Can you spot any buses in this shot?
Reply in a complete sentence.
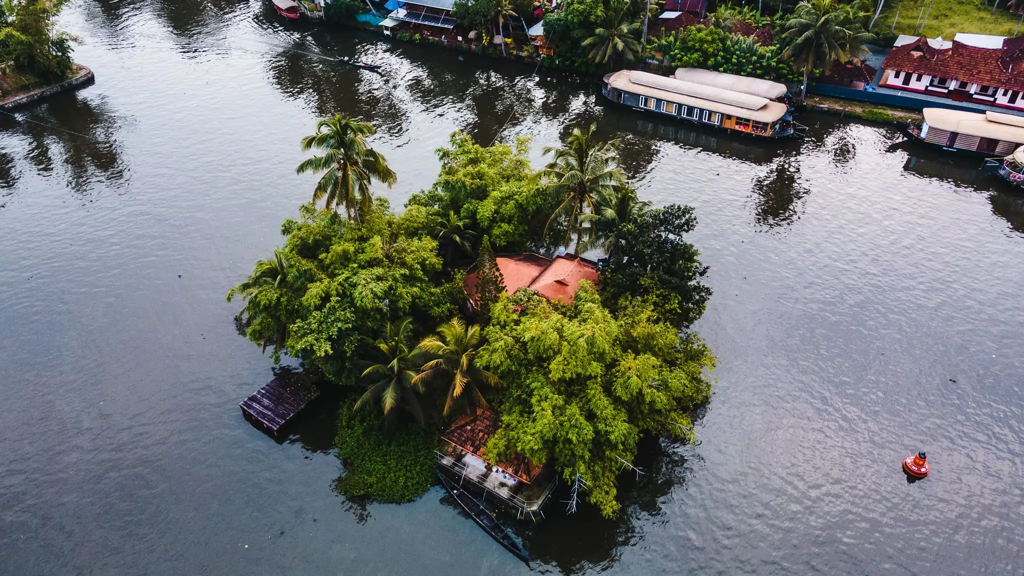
No, there is no bus in the image.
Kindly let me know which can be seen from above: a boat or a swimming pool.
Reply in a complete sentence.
I can see a boat in this picture.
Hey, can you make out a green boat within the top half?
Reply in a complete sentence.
No, I can find no green boat within the top half.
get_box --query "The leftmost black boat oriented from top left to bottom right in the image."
[438,460,529,564]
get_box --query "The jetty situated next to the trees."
[241,372,327,435]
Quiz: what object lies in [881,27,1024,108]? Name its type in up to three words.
house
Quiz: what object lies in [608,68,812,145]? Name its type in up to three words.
boat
